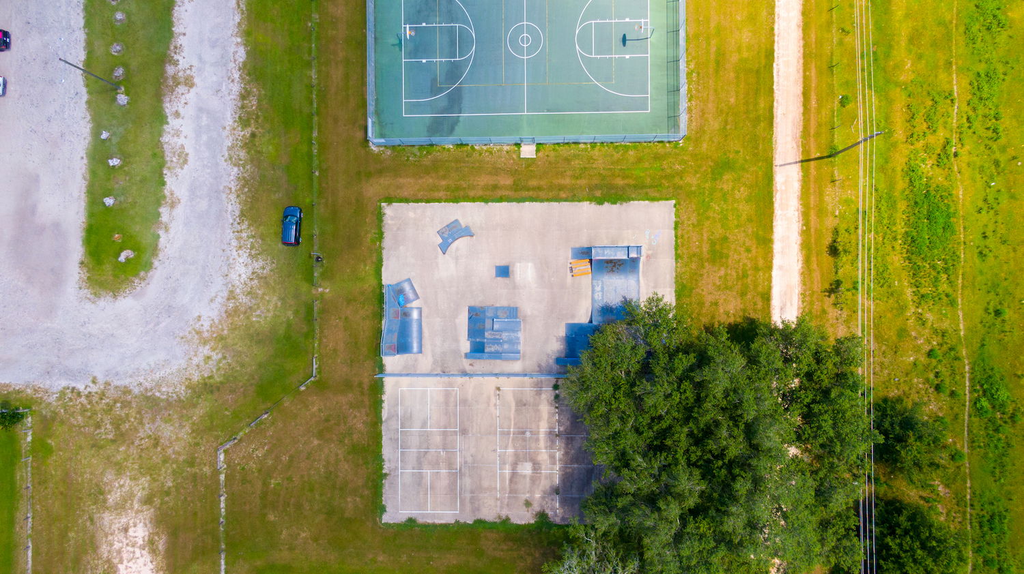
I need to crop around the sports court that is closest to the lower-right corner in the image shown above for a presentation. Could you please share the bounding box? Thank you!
[461,387,601,516]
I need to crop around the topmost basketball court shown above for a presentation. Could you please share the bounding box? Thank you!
[373,0,680,145]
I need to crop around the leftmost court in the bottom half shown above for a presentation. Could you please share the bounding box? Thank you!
[397,387,460,515]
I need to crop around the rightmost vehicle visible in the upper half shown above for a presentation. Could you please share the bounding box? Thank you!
[280,205,303,246]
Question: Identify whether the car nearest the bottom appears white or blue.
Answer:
blue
